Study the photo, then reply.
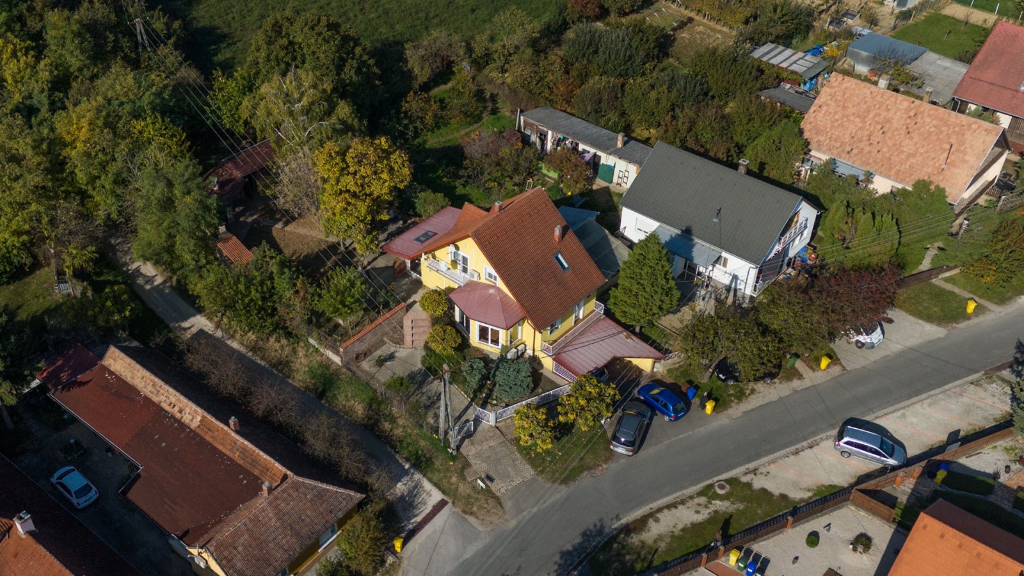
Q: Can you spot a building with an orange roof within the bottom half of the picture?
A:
Yes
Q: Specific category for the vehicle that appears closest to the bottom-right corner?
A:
automobile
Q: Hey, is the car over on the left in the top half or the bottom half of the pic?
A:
bottom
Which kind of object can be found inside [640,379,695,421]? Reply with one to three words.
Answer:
car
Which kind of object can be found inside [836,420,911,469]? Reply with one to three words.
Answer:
car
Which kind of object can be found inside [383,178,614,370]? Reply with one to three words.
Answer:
house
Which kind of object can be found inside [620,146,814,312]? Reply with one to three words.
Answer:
house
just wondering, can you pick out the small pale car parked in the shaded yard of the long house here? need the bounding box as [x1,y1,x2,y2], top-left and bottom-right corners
[45,464,99,508]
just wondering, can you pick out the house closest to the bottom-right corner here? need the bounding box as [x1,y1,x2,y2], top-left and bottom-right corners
[888,490,1024,576]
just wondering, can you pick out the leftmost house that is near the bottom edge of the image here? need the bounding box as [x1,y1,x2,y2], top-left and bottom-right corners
[0,451,149,576]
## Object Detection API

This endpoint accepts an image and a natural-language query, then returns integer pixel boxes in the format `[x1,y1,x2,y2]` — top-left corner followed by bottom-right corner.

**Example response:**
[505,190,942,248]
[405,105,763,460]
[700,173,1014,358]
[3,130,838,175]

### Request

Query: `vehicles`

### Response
[590,363,626,390]
[640,379,695,421]
[836,420,911,469]
[606,402,651,458]
[45,464,99,508]
[848,323,887,345]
